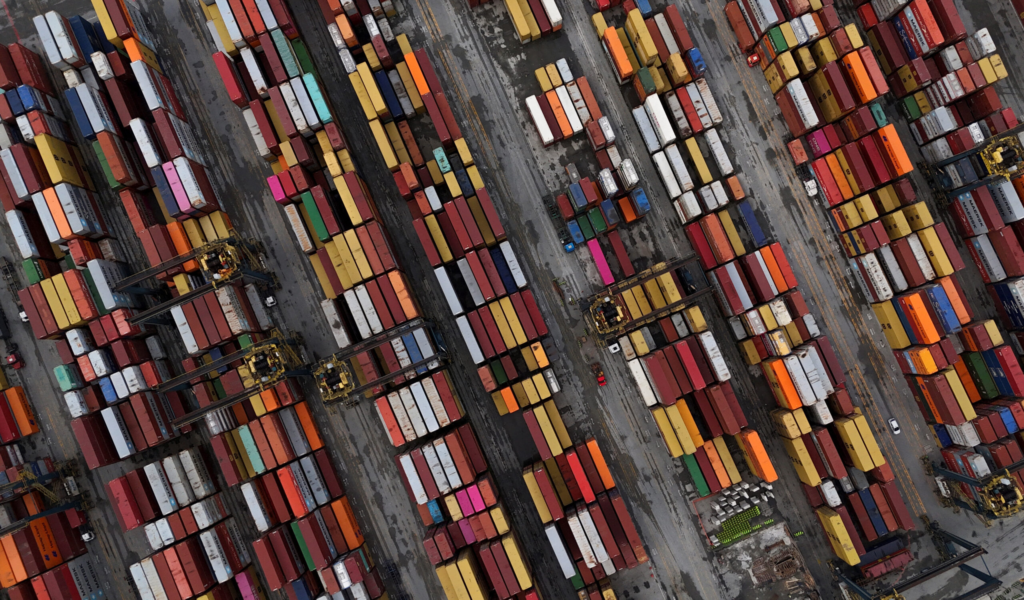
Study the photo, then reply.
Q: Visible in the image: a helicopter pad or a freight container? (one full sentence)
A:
There is a freight container in the scene.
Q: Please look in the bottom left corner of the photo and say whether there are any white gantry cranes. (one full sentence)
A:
No, no white gantry crane can be made out in the bottom left corner of the photo.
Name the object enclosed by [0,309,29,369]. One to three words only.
truck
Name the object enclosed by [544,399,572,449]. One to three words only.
shipping container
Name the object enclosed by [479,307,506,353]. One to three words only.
shipping container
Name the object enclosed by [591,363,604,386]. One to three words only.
vehicle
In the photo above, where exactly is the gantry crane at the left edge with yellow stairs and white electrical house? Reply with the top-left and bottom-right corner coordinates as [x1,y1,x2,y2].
[0,459,96,541]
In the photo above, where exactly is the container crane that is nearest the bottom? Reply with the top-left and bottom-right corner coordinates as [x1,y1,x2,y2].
[823,513,1003,600]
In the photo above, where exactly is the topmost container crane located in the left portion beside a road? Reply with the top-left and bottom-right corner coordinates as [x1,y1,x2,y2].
[113,236,279,333]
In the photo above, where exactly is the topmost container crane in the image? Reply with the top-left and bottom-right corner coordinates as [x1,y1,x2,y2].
[918,121,1024,208]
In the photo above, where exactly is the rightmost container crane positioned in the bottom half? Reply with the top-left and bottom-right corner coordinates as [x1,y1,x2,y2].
[920,457,1024,526]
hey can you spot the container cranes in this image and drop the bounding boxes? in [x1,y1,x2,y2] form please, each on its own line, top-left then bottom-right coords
[309,314,451,408]
[918,121,1024,208]
[155,334,317,431]
[920,457,1024,526]
[573,250,714,345]
[823,513,1003,600]
[0,459,96,541]
[113,236,279,333]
